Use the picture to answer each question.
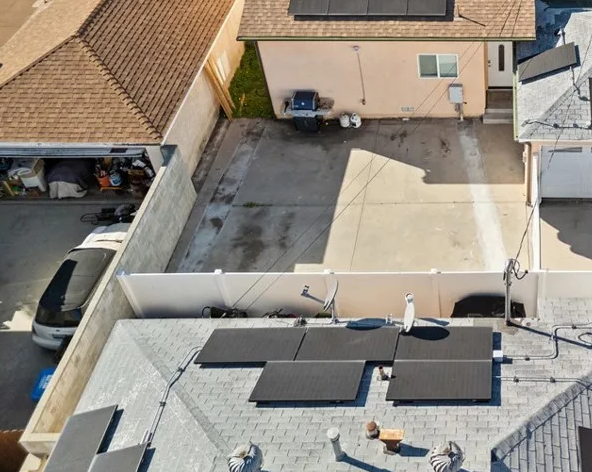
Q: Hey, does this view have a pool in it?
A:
No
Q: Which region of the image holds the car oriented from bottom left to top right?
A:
left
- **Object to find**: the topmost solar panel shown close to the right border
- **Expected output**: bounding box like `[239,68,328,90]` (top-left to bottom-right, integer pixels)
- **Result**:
[519,41,578,82]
